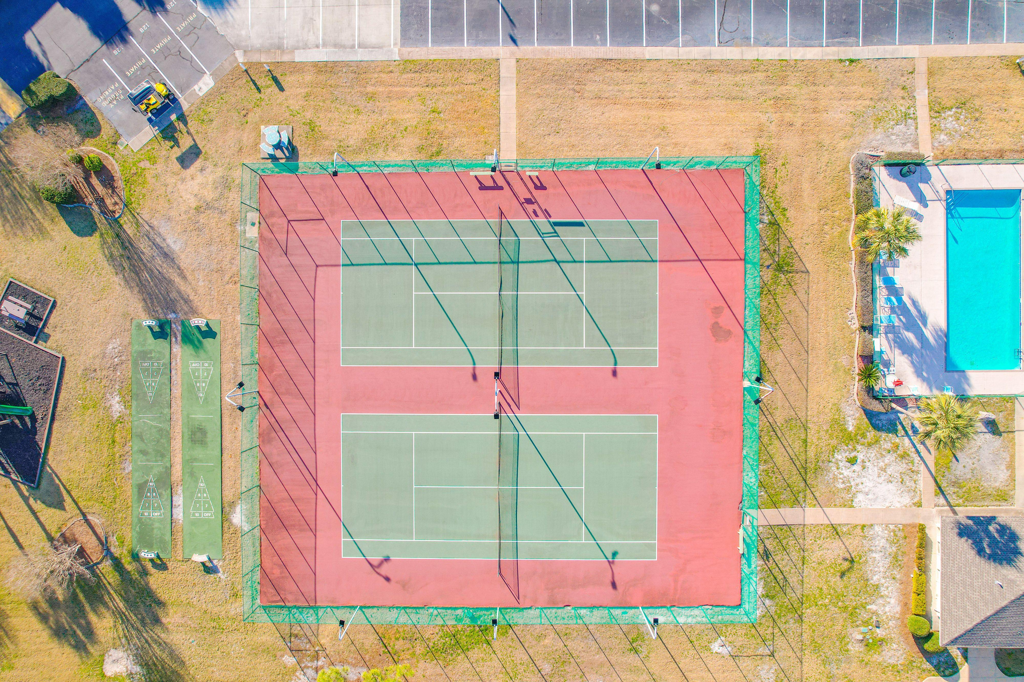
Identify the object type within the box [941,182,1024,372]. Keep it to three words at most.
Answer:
swimming pool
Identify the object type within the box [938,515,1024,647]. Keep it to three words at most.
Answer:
house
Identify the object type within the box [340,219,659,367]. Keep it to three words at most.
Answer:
tennis court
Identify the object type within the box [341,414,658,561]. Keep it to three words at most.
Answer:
tennis court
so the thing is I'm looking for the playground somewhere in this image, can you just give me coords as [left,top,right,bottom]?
[0,278,63,487]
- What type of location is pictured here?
sports ground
